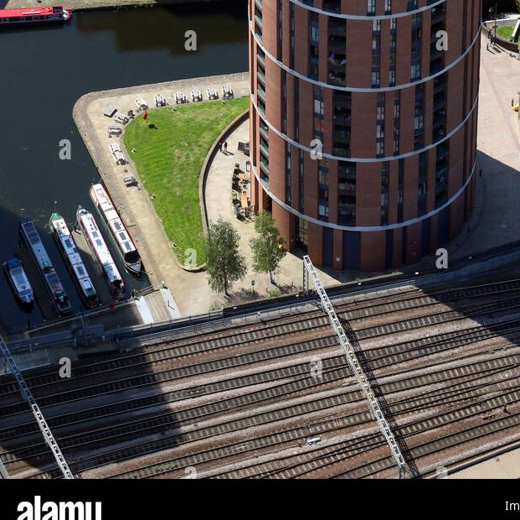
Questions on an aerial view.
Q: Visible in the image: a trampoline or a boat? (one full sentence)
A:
The one in the frame is a boat.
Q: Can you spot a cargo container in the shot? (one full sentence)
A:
No, I can see no cargo container in this picture.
